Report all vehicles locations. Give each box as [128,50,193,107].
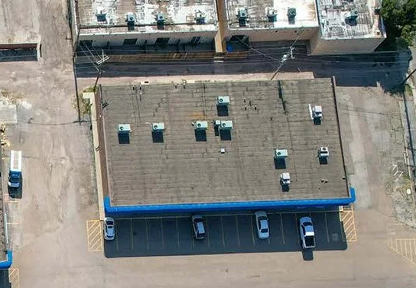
[191,215,206,241]
[103,217,115,242]
[253,213,270,241]
[8,150,22,188]
[298,217,316,250]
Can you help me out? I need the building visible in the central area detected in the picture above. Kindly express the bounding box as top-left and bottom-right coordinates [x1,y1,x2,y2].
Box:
[96,76,354,214]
